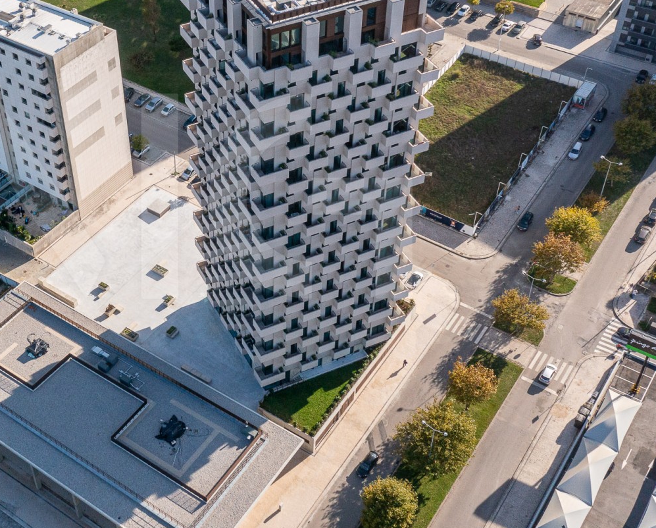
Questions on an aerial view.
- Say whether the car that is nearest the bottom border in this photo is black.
Yes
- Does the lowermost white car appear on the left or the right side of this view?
right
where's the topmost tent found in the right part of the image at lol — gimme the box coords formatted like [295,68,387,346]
[584,385,643,450]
